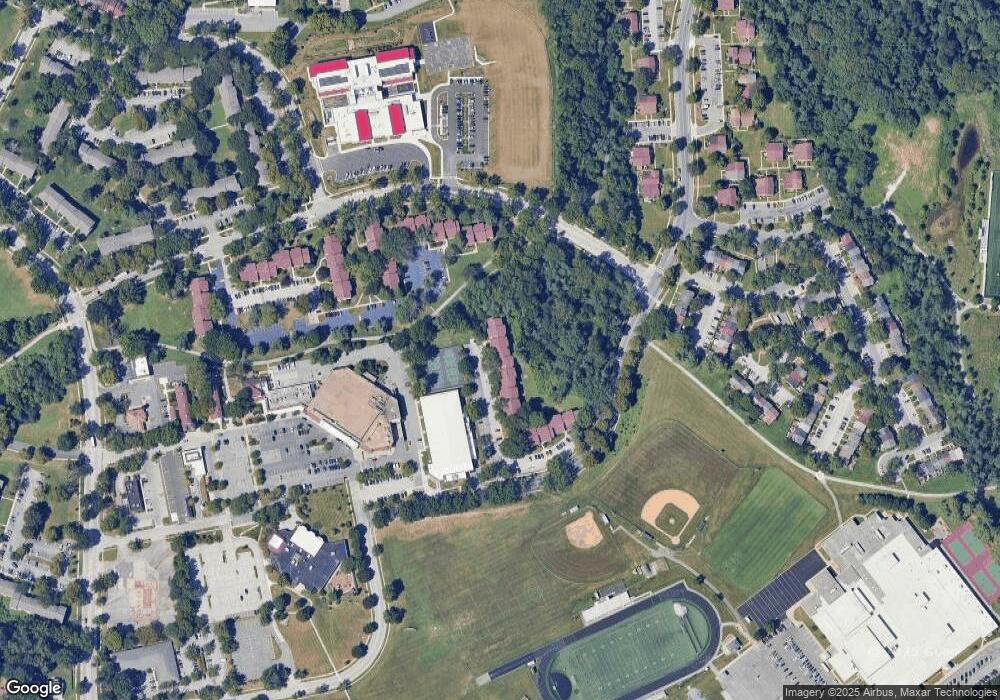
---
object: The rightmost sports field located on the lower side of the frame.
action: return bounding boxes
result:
[705,468,828,592]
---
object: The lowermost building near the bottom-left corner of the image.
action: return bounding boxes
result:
[113,641,180,683]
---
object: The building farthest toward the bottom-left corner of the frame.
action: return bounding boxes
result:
[0,581,67,621]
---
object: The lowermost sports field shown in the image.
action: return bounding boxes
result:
[549,598,707,700]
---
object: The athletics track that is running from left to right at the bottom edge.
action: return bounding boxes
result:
[474,581,716,700]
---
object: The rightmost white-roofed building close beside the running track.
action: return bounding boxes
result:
[800,511,1000,700]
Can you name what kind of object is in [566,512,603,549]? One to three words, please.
baseball field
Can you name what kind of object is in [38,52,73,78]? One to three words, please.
building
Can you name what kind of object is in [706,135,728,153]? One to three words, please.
house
